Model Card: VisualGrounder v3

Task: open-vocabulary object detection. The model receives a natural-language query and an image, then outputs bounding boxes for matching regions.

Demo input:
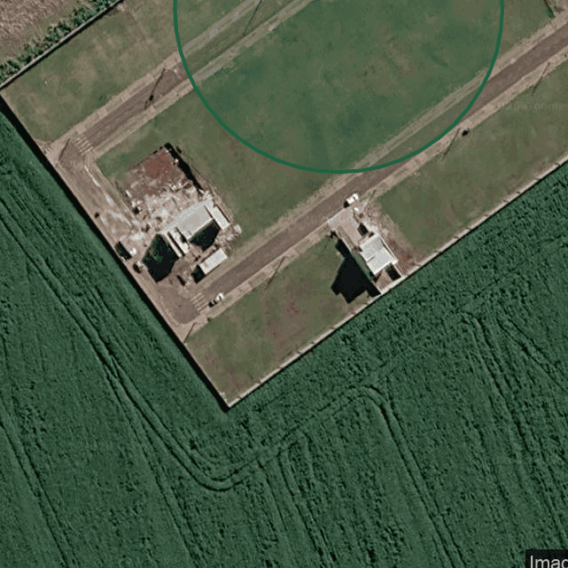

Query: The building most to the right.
[329,207,397,288]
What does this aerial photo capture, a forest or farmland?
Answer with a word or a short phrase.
farmland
